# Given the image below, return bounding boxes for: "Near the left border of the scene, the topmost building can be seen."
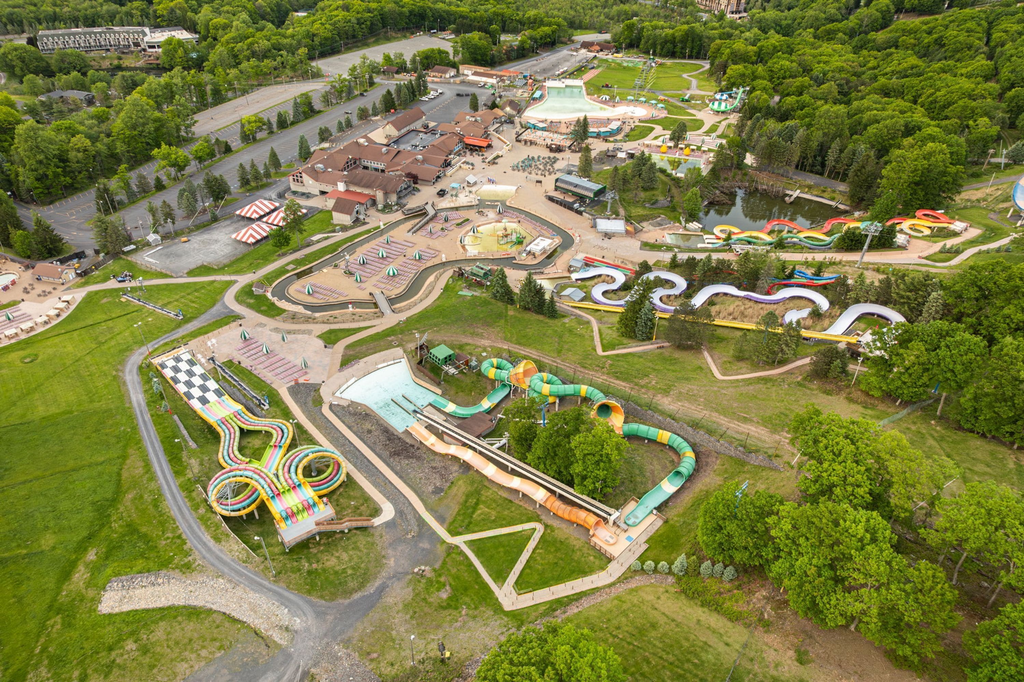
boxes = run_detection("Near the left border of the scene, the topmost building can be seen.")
[36,17,199,51]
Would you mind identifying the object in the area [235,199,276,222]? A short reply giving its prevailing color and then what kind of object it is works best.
white tent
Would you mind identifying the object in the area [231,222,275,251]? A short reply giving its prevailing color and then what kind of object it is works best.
white tent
